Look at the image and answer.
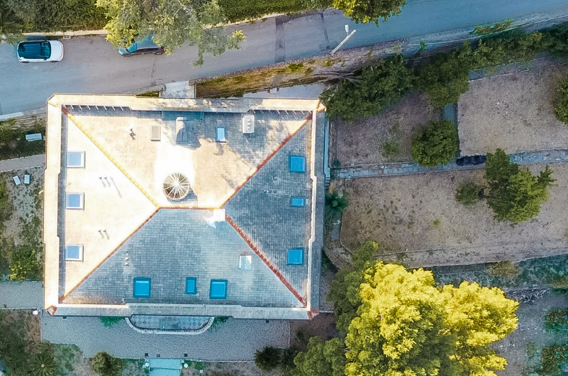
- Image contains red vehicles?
No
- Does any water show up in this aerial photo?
No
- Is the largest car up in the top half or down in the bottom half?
top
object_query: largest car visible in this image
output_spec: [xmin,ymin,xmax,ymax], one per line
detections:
[18,39,62,63]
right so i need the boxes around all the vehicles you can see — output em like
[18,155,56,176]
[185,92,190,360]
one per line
[18,39,62,63]
[117,44,160,58]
